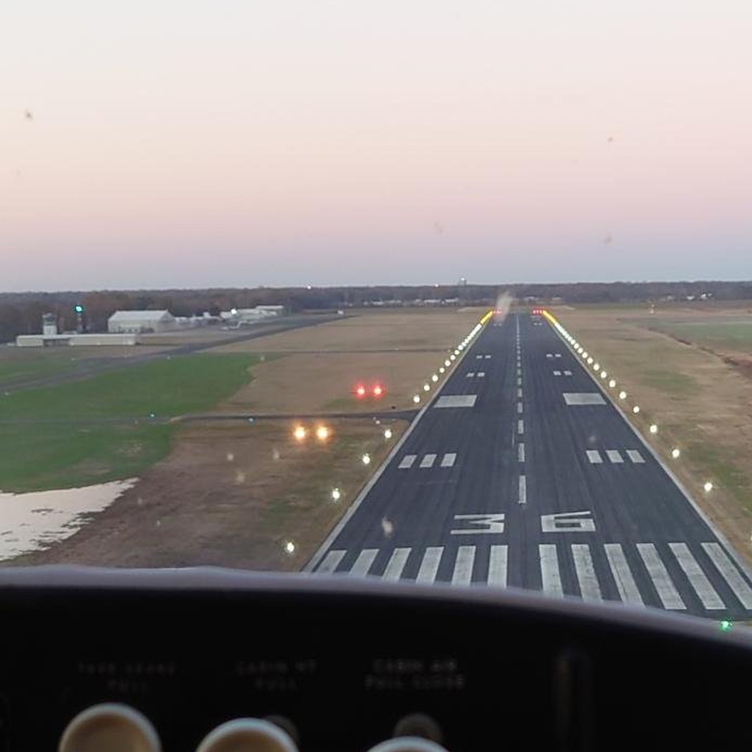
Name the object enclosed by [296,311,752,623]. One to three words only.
runway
